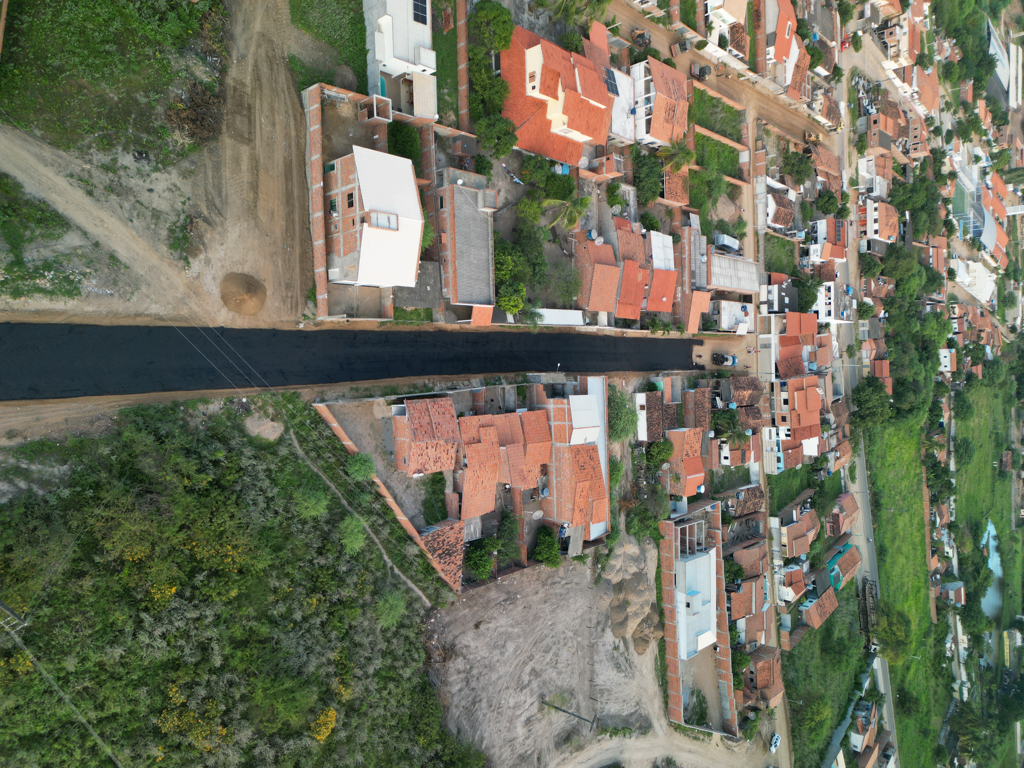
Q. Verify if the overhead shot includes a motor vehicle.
Yes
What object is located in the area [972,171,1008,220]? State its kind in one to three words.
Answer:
building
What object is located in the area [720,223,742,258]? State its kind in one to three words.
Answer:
vehicle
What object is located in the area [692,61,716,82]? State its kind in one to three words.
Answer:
work vehicle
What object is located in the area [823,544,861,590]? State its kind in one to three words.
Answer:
house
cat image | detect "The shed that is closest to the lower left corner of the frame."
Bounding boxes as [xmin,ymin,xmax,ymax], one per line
[417,520,464,594]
